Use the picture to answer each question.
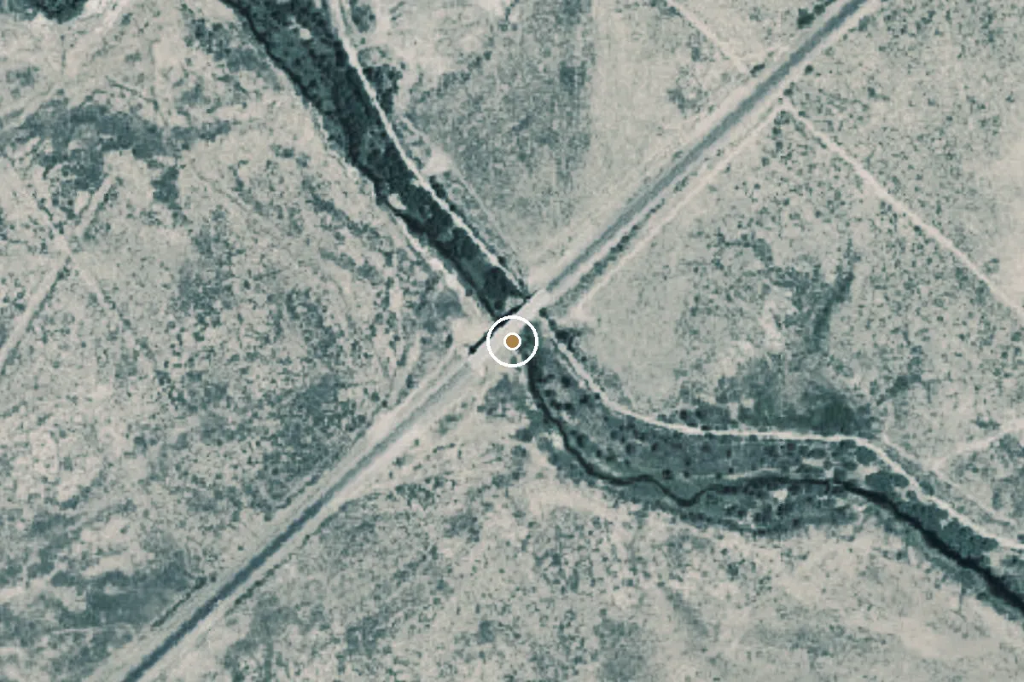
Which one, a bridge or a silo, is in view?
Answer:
bridge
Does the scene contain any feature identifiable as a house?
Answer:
No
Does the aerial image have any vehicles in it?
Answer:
No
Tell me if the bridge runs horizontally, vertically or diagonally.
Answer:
diagonally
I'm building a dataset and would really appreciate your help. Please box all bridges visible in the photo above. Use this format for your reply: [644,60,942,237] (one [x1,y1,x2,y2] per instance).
[464,285,557,374]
